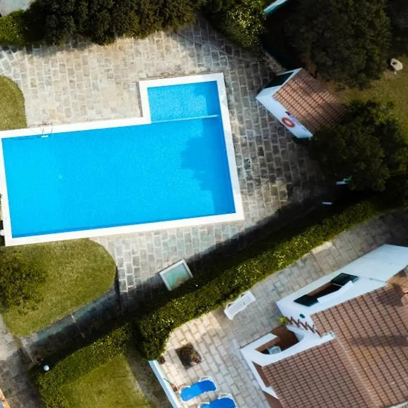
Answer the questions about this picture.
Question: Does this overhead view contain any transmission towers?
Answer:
No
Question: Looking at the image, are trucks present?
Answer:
No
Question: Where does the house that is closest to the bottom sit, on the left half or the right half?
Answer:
right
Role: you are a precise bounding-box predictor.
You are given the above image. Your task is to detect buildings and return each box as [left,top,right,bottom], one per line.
[255,69,347,135]
[239,243,408,408]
